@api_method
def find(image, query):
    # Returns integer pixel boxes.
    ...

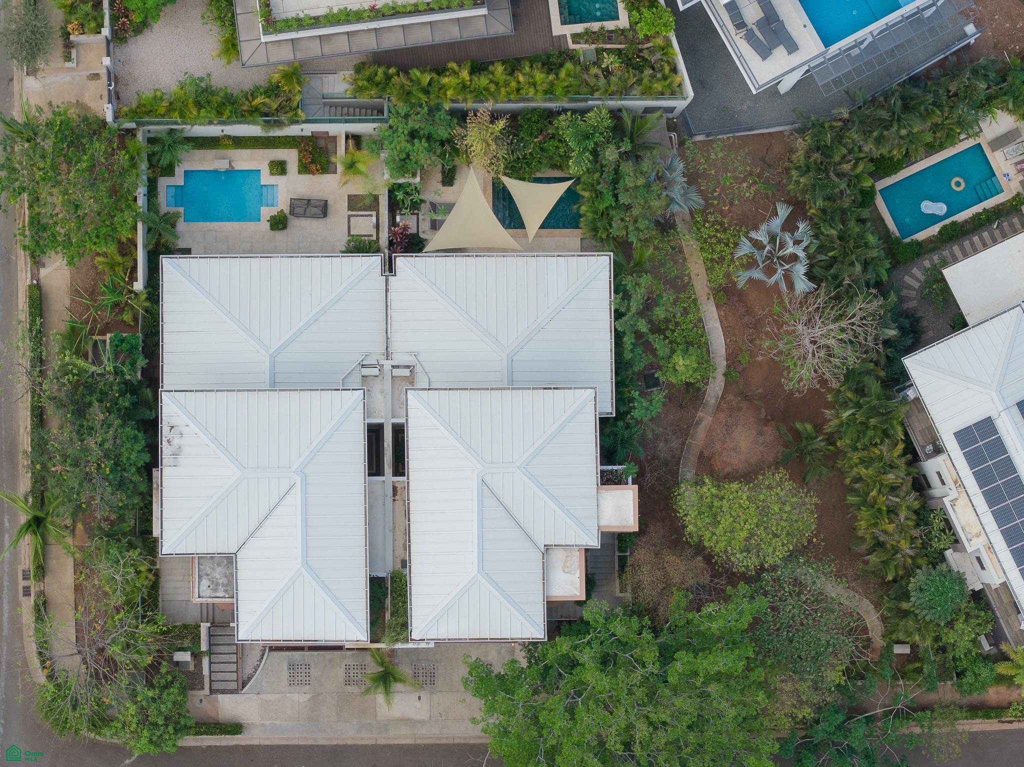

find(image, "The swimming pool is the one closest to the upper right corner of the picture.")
[870,134,1012,240]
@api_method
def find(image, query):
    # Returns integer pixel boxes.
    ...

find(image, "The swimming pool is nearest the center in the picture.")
[484,168,589,238]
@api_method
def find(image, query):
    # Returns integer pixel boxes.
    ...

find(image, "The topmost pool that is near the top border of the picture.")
[550,0,628,35]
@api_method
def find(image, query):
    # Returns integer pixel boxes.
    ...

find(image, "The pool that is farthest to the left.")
[158,162,287,231]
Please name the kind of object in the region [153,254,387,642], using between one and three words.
house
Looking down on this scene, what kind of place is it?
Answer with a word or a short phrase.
residential area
